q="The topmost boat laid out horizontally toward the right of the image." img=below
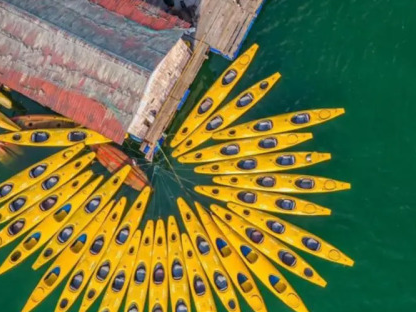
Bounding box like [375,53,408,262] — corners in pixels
[212,107,345,138]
